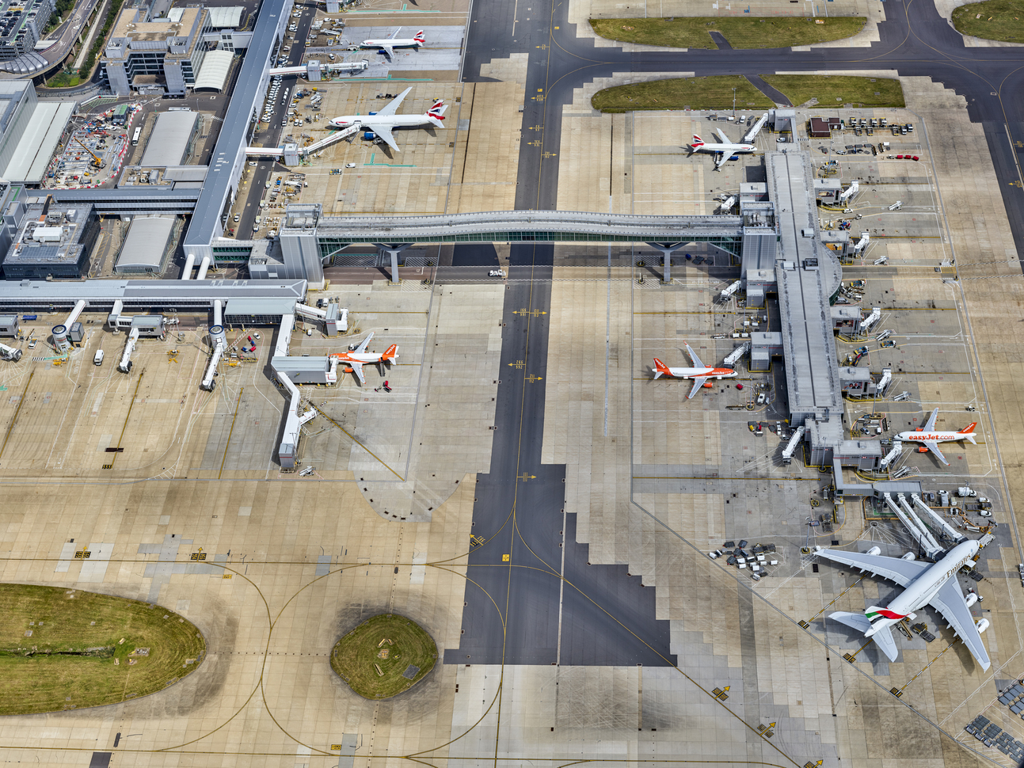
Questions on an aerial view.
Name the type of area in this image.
airport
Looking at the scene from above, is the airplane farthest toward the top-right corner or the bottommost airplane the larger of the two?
the bottommost airplane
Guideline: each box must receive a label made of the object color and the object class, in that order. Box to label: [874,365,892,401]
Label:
white jet bridge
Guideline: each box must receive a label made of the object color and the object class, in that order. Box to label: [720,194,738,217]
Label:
white jet bridge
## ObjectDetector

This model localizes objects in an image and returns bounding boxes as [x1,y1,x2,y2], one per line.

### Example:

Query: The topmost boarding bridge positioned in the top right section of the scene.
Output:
[743,113,769,145]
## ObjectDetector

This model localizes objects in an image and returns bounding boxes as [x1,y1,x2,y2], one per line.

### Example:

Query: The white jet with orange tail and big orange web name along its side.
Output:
[894,407,980,463]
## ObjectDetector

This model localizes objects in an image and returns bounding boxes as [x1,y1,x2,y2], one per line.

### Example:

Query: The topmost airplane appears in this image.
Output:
[360,25,425,59]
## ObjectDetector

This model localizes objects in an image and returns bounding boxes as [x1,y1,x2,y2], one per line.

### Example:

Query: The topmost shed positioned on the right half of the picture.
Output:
[806,117,841,140]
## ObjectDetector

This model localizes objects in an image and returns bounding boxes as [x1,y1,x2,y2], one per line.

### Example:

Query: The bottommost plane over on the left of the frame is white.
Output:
[328,332,399,379]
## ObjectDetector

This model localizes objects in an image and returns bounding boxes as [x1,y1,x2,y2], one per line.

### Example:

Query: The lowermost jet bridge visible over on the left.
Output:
[301,407,323,436]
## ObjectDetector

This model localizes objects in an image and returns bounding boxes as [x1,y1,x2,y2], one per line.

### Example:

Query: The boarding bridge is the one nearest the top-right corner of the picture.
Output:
[839,179,859,211]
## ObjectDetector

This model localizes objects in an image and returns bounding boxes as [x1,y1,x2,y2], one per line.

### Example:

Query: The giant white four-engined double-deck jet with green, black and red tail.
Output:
[815,538,994,663]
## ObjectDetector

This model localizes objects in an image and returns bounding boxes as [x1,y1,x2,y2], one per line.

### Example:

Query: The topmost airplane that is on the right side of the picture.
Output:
[689,128,757,167]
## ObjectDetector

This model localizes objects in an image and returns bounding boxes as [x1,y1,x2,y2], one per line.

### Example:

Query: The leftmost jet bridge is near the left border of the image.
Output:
[0,340,22,362]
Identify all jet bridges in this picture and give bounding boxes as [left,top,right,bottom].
[720,194,738,217]
[719,280,743,303]
[119,328,140,373]
[853,230,870,262]
[324,59,370,78]
[874,365,892,401]
[202,340,223,393]
[859,305,881,340]
[0,340,22,362]
[743,113,769,145]
[895,494,949,558]
[780,425,805,464]
[324,354,341,392]
[336,305,351,339]
[301,407,323,436]
[878,438,902,477]
[839,179,859,211]
[909,494,967,545]
[721,340,751,370]
[881,494,943,562]
[302,120,365,164]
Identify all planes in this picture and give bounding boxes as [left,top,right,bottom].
[894,407,980,463]
[689,128,757,167]
[815,538,994,663]
[651,342,738,397]
[360,25,425,59]
[329,89,447,149]
[328,332,399,379]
